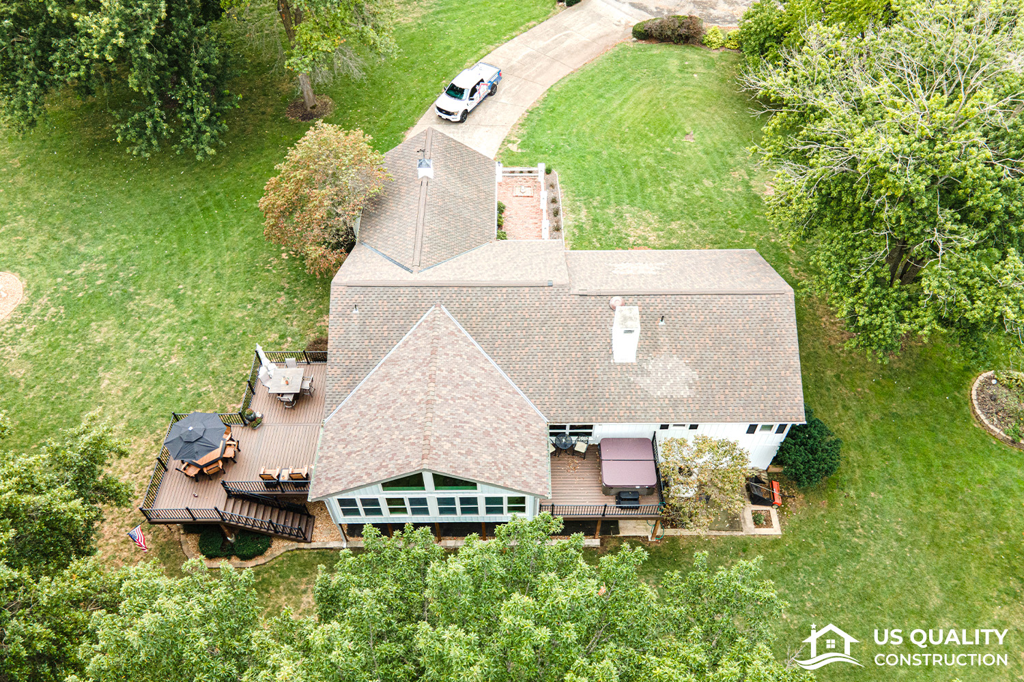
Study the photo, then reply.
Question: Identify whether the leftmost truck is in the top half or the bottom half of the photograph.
top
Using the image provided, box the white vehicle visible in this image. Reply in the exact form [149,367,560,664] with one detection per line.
[430,62,503,123]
